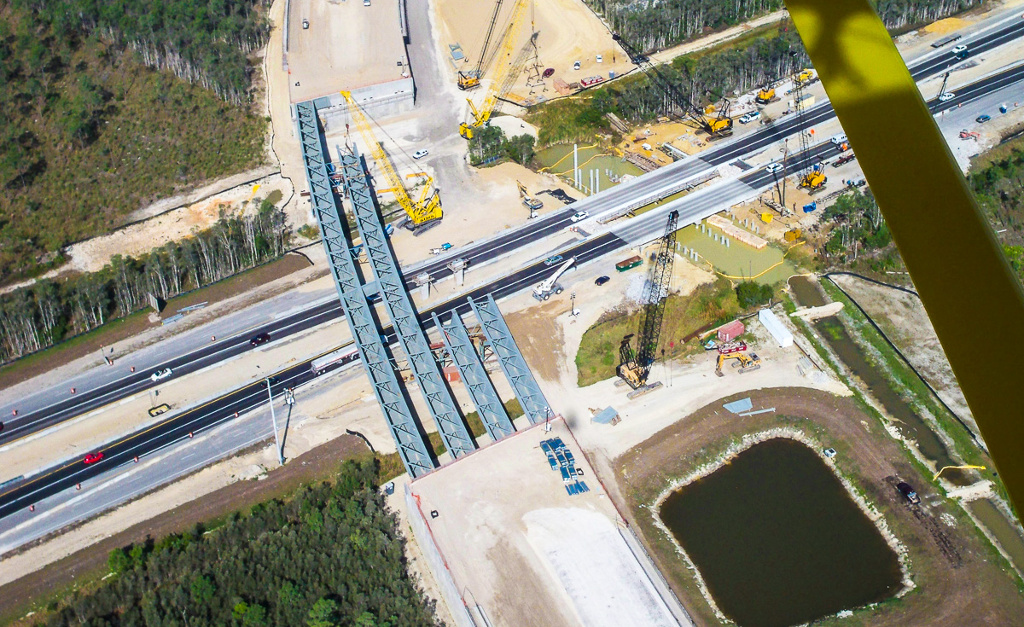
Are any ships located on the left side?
No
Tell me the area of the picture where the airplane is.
right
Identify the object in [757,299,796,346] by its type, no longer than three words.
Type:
trailer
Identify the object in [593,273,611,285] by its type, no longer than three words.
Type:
vehicle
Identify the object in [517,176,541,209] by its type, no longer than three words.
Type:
work vehicle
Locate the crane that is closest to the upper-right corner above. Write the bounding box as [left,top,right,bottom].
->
[791,49,836,192]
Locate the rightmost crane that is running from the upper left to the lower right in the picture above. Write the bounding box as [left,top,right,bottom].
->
[610,33,744,141]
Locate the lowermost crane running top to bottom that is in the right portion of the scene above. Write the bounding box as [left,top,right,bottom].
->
[609,211,681,391]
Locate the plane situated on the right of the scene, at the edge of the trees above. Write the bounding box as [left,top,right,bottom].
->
[784,0,1024,541]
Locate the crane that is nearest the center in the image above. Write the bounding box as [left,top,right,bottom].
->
[534,259,577,300]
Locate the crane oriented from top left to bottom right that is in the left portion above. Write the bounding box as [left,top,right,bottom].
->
[343,92,449,233]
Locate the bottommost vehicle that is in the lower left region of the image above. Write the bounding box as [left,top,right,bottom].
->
[80,450,105,463]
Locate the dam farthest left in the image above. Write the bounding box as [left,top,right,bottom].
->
[793,301,843,320]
